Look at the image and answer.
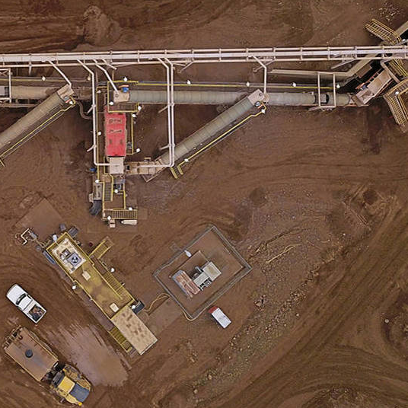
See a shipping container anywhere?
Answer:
Yes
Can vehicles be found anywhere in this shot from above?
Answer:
Yes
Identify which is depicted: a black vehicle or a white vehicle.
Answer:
white vehicle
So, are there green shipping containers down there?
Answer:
No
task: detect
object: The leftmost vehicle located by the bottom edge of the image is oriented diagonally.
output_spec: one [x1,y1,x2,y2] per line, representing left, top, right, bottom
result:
[1,323,86,403]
